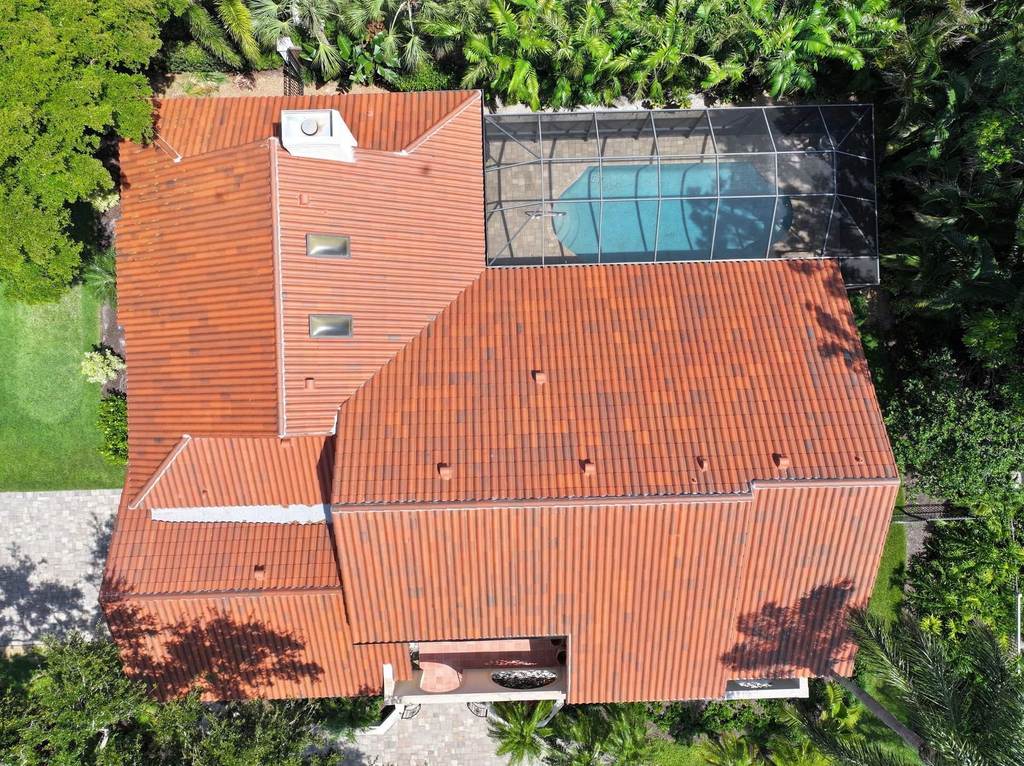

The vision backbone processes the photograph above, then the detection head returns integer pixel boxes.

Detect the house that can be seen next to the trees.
[92,88,905,707]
